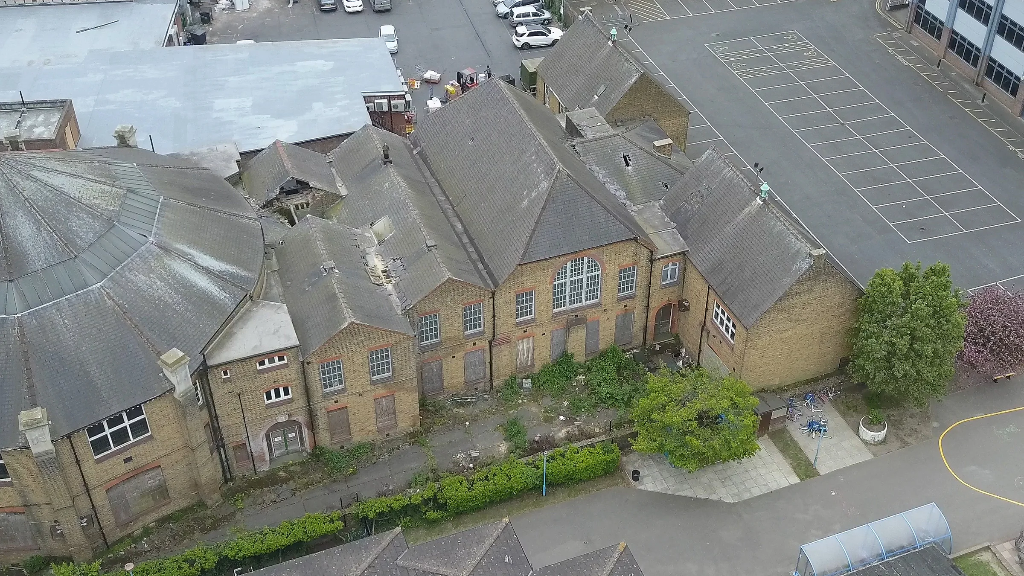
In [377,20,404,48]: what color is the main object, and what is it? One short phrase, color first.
white car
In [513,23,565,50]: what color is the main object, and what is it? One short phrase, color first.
white car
